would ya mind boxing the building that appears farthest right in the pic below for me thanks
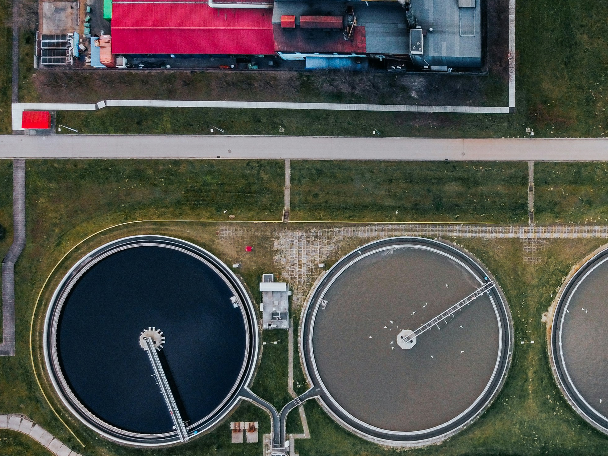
[407,0,483,71]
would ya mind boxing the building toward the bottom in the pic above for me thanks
[260,275,294,329]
